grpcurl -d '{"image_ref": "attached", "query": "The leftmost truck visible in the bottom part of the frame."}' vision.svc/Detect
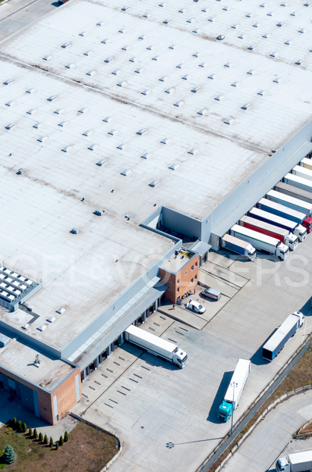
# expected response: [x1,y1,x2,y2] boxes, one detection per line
[121,328,191,368]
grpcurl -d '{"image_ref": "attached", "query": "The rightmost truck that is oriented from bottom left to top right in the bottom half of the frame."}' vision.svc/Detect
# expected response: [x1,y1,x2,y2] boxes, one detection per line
[261,311,304,363]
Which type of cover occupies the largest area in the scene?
buildings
